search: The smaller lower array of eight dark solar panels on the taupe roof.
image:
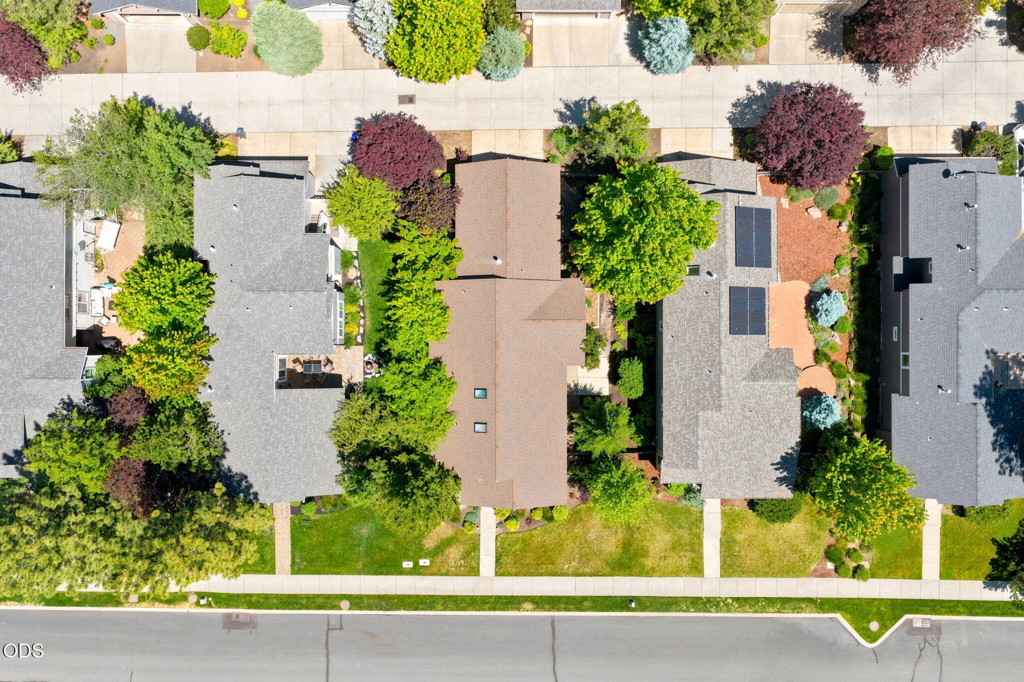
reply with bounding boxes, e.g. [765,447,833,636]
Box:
[731,286,767,336]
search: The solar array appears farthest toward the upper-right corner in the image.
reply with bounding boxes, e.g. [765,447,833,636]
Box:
[737,205,773,268]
